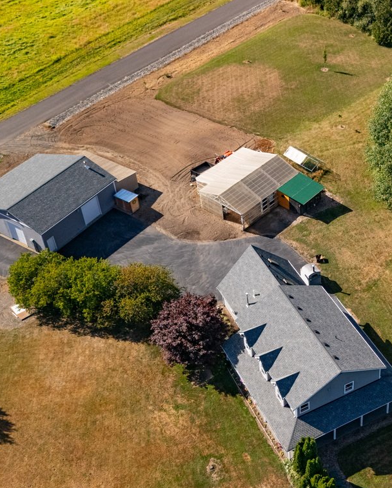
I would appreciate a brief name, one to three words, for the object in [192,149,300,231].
greenhouse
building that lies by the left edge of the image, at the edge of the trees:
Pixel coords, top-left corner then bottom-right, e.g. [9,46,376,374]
[0,154,119,258]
